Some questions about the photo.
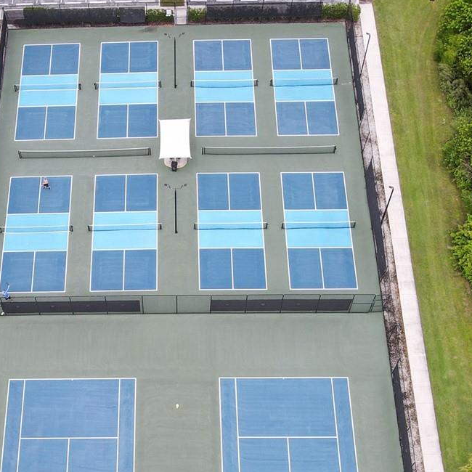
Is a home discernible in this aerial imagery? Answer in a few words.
No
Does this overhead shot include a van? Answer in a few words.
No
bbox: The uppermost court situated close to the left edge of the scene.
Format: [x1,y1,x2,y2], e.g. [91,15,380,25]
[14,43,81,140]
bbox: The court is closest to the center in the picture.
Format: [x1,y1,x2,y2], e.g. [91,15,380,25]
[196,172,267,290]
